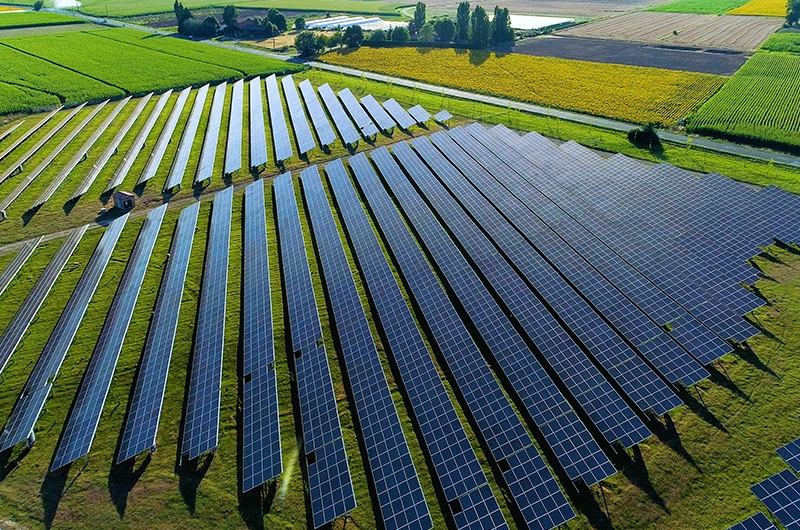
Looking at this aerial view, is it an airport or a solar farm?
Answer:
solar farm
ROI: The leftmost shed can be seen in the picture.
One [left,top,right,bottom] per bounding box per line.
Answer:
[109,188,136,209]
